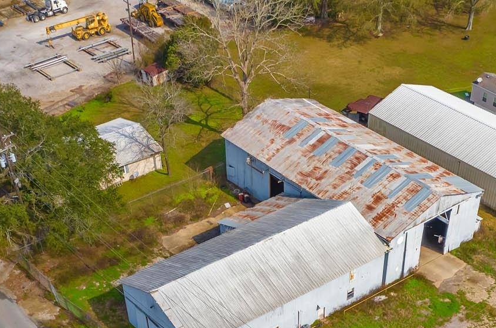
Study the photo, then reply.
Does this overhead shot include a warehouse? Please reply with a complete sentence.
Yes, looking at the shot, I can spot a warehouse.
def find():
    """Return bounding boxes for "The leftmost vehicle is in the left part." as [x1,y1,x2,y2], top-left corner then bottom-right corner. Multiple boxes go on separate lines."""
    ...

[24,0,68,23]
